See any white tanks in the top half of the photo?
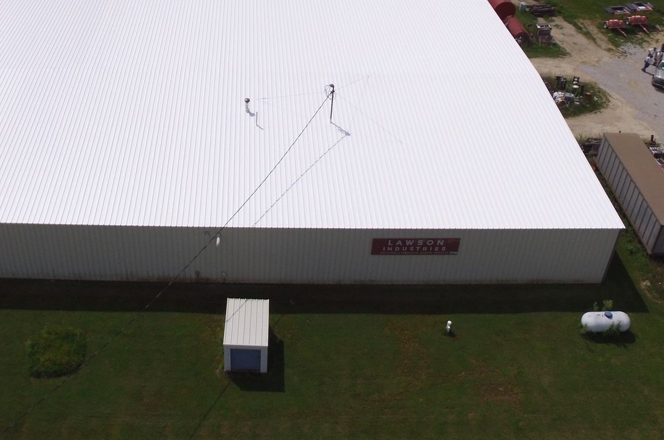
No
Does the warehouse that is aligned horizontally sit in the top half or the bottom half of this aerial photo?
top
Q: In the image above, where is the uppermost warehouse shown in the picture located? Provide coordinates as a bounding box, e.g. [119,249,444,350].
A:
[0,0,631,285]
